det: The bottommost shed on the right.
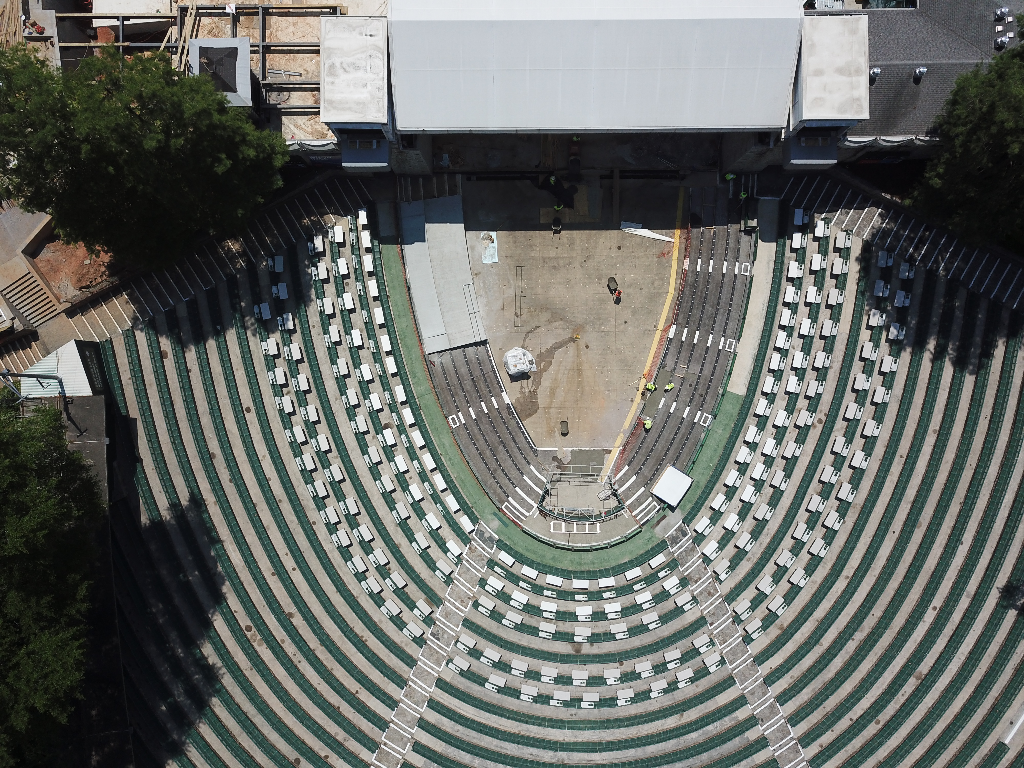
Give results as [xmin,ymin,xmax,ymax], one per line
[646,463,694,507]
